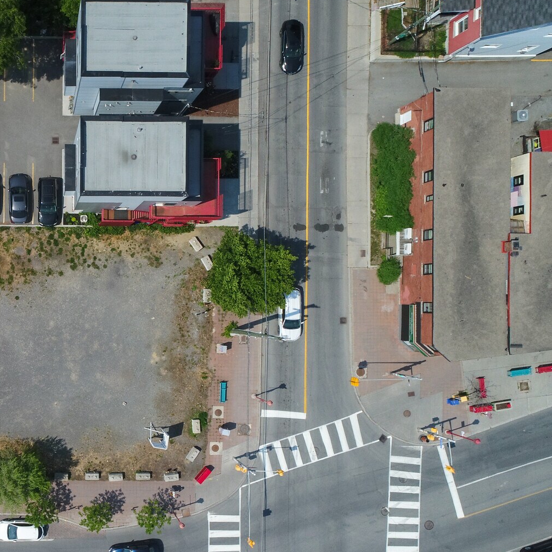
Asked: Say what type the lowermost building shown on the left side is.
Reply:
residential house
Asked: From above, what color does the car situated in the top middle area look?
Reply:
black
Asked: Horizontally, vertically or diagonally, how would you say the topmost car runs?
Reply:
vertically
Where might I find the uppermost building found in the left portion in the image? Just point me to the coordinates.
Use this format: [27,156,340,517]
[63,0,224,115]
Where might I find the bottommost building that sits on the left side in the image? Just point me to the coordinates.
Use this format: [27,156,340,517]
[63,115,223,230]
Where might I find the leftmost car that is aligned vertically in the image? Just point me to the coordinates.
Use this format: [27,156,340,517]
[7,173,32,224]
